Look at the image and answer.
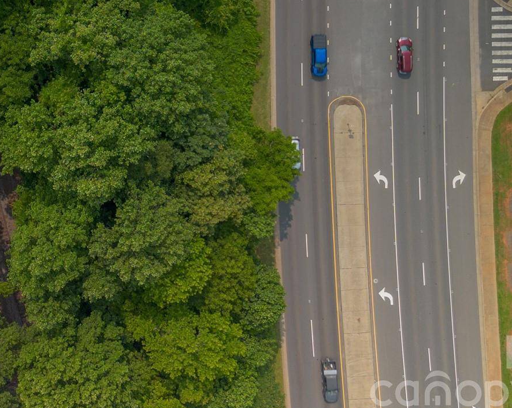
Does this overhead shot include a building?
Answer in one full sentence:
No, the photo shows no building.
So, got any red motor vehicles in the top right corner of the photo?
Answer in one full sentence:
Yes, I can see a red motor vehicle in the top right corner of the photo.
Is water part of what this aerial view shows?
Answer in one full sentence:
No, the picture contains no water.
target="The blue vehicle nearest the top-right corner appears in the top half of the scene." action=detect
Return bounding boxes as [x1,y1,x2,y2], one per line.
[310,34,328,77]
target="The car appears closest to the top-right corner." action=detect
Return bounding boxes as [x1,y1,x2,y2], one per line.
[395,37,414,74]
